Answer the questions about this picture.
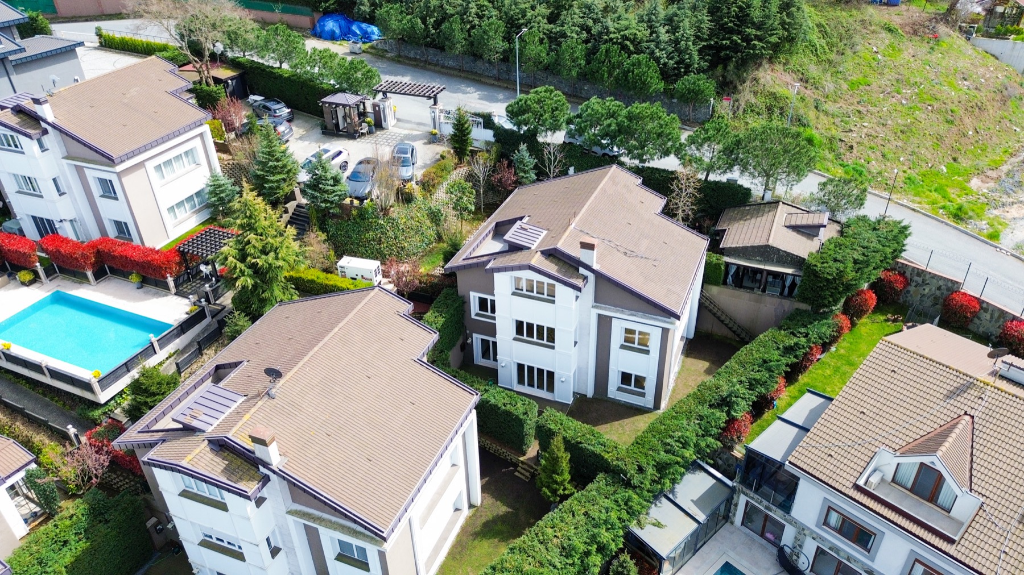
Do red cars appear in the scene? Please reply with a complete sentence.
No, the frame has no red car in it.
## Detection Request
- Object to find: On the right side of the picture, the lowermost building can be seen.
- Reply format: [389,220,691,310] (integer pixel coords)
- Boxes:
[728,320,1024,575]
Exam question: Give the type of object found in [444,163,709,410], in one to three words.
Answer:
house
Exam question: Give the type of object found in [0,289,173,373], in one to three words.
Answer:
swimming pool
